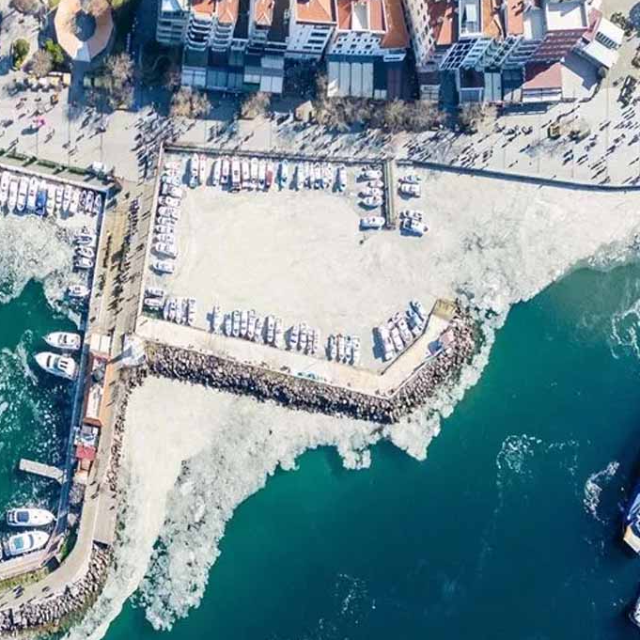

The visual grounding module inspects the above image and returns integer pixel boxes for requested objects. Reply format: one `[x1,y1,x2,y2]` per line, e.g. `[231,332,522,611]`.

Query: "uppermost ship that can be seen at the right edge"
[613,487,640,551]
